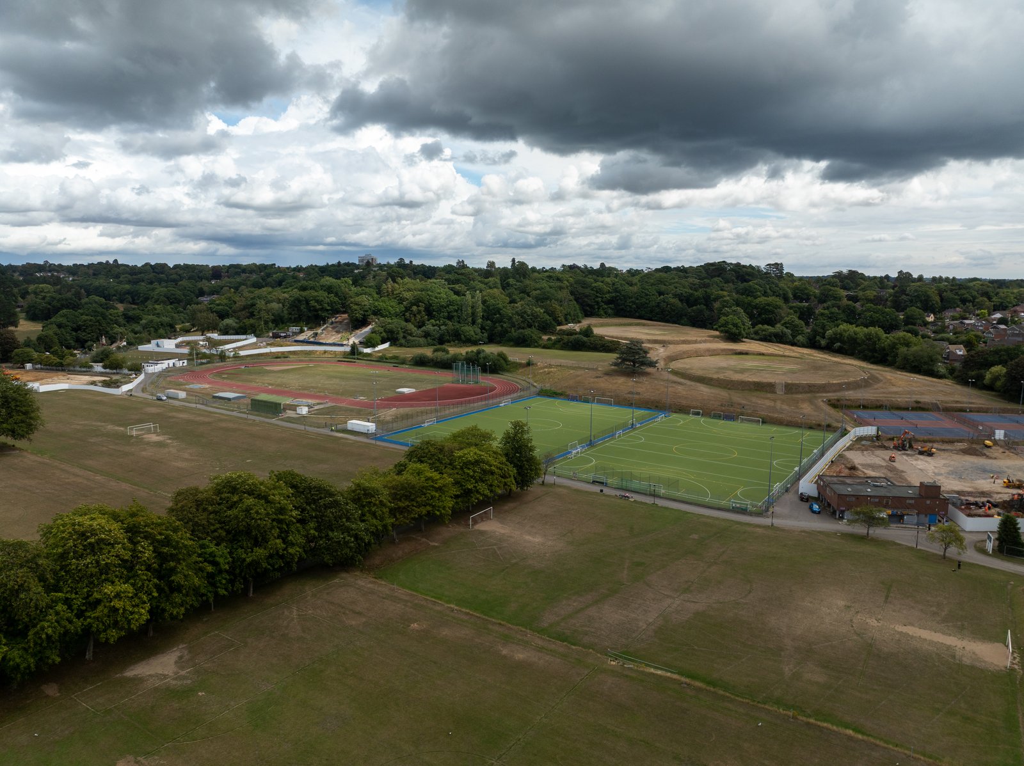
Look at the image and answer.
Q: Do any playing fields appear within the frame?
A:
Yes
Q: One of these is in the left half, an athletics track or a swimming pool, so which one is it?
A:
athletics track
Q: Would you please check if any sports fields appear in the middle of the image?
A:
Yes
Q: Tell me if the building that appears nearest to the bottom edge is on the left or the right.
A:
right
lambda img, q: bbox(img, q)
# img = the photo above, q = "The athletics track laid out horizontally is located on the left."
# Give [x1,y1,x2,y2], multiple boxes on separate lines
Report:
[170,360,518,408]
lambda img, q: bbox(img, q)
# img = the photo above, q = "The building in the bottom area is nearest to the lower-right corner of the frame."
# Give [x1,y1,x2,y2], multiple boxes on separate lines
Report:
[817,475,950,525]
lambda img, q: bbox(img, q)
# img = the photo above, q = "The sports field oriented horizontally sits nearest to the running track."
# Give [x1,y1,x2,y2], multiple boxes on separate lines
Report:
[387,397,664,460]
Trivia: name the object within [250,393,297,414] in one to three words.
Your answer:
building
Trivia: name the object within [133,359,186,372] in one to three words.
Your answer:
building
